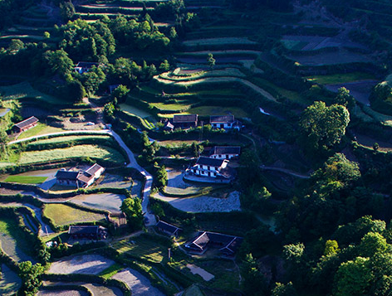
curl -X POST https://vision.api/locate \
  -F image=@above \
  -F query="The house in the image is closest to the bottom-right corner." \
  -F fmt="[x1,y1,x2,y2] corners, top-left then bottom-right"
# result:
[184,230,257,261]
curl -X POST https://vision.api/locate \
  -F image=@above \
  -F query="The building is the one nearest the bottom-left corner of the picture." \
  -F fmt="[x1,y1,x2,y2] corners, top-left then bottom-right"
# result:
[64,226,116,243]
